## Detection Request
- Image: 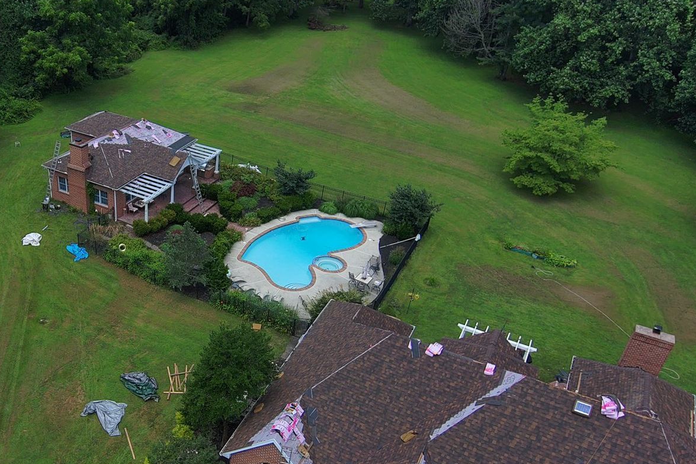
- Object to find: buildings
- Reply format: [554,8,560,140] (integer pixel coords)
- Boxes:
[41,111,223,235]
[218,300,696,464]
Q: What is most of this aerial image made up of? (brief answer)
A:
grass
